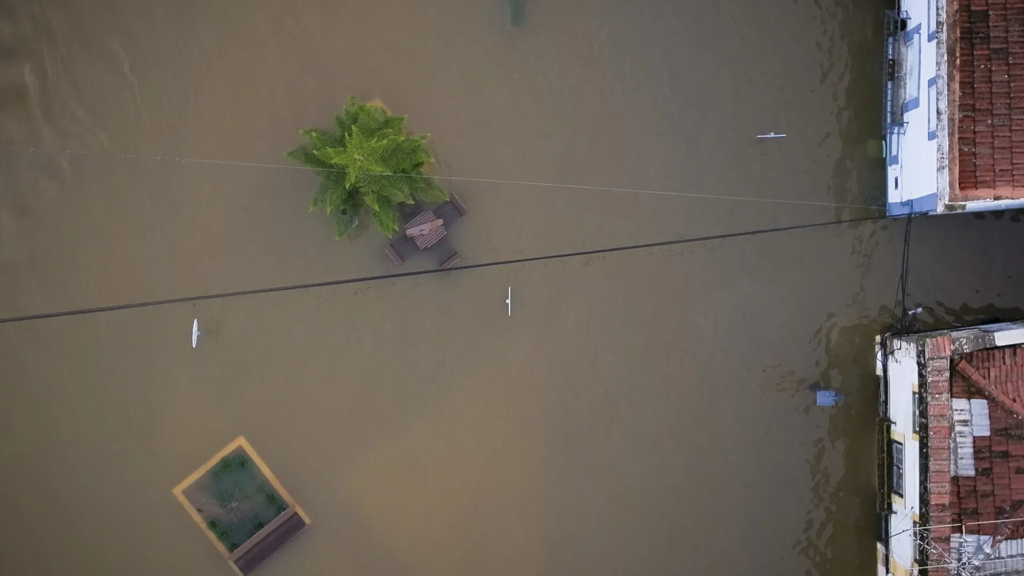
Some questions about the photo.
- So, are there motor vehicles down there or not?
No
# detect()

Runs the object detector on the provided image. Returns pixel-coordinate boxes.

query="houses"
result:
[877,0,1024,219]
[867,316,1024,576]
